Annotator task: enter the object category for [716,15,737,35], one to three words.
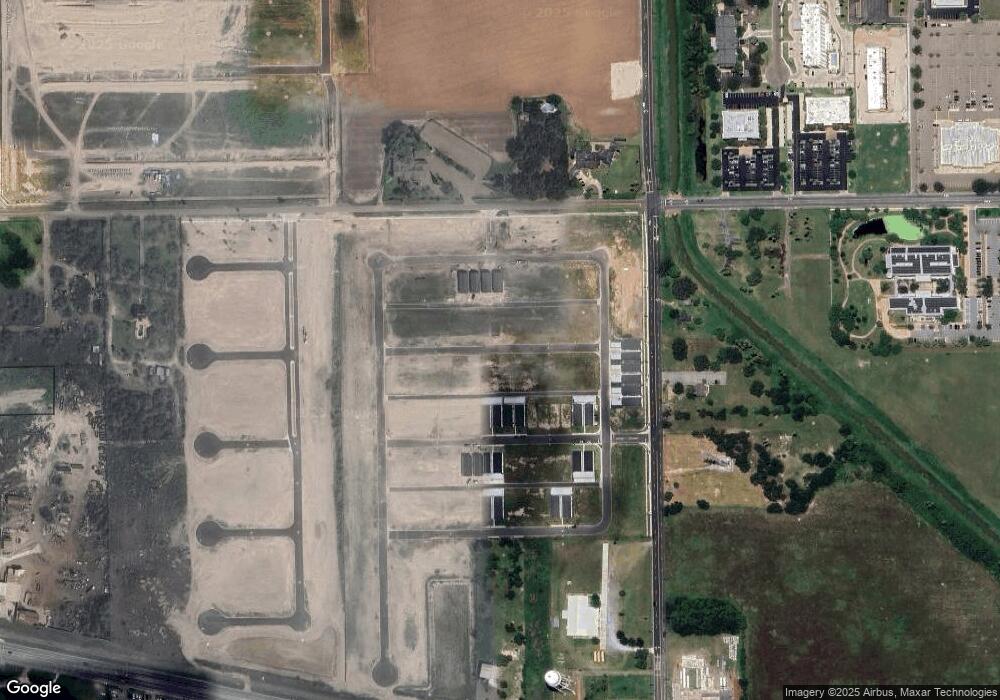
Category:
house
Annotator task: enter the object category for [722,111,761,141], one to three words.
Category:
building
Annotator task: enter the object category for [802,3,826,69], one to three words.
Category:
building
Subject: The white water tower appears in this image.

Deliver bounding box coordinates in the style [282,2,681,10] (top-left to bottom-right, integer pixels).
[544,670,572,694]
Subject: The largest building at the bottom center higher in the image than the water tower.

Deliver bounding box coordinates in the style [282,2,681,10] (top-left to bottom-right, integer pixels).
[562,595,601,637]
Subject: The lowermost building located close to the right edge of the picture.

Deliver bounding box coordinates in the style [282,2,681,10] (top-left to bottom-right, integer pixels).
[889,291,960,315]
